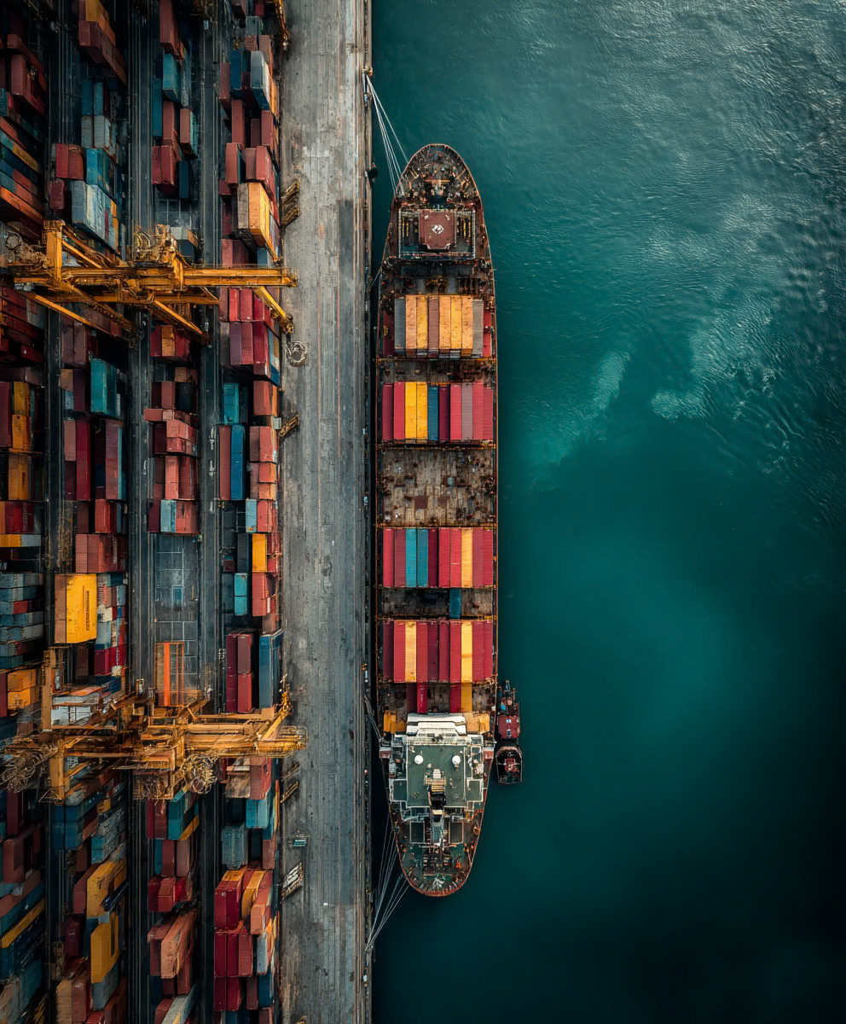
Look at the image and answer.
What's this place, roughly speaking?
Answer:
port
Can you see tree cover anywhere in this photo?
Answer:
No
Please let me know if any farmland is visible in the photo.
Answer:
No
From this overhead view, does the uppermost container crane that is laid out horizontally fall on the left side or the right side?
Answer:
left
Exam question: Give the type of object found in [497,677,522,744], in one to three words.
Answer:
boat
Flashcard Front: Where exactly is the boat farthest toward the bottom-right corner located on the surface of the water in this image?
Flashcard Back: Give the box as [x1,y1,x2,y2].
[497,744,522,784]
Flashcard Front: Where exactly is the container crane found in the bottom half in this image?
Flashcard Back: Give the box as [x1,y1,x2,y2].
[0,648,306,804]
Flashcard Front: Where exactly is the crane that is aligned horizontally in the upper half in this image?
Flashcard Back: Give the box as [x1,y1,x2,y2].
[0,215,300,344]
